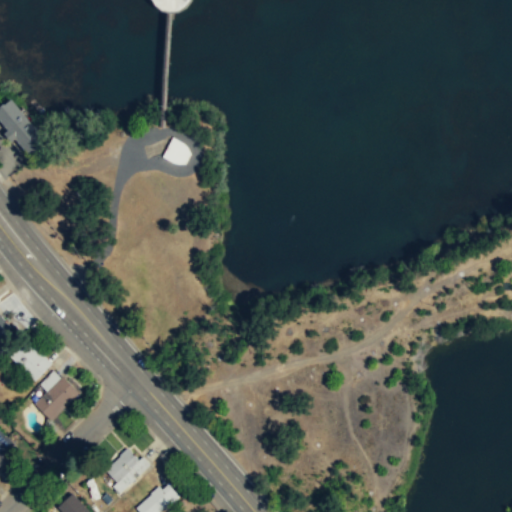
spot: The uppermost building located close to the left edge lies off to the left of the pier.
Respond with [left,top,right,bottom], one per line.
[0,91,35,152]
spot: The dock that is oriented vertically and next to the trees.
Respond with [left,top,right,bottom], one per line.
[152,0,193,129]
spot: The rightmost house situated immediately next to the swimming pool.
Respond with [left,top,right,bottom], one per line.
[36,370,78,420]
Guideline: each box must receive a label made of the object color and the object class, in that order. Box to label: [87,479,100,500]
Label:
white vehicle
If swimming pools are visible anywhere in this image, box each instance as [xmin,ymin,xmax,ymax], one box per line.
[24,404,46,432]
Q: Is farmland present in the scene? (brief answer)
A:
No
